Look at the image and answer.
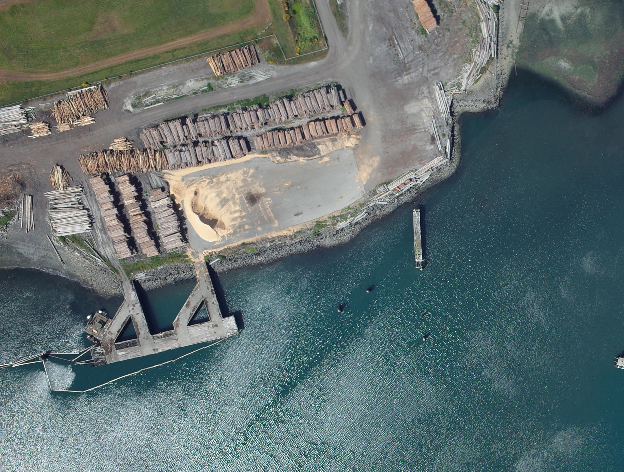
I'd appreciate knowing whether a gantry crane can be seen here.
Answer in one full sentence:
No, the frame has no gantry crane in it.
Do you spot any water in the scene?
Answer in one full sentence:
Yes, some water is visible.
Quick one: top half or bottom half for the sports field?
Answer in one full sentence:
You can find the sports field in the top half.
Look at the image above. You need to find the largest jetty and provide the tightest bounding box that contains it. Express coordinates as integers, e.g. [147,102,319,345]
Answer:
[90,261,239,367]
